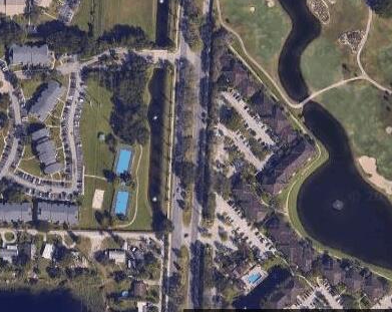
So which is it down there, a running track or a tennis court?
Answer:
tennis court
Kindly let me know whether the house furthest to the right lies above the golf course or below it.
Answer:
below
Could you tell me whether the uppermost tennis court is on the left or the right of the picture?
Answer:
left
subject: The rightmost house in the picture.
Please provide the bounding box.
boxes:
[362,283,389,311]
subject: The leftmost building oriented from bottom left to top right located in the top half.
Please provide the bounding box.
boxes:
[27,79,65,121]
